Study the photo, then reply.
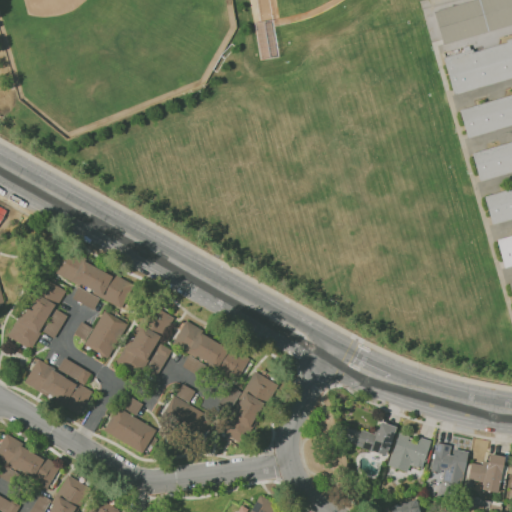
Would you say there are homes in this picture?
Yes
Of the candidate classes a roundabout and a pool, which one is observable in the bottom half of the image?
pool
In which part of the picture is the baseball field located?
top left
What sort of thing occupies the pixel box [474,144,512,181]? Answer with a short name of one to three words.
building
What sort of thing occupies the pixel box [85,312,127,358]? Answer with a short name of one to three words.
house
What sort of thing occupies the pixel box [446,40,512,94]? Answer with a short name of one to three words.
building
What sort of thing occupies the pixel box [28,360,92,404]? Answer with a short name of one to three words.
house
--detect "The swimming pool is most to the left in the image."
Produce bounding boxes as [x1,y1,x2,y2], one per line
[358,452,386,479]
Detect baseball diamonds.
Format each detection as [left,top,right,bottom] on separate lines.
[0,0,236,138]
